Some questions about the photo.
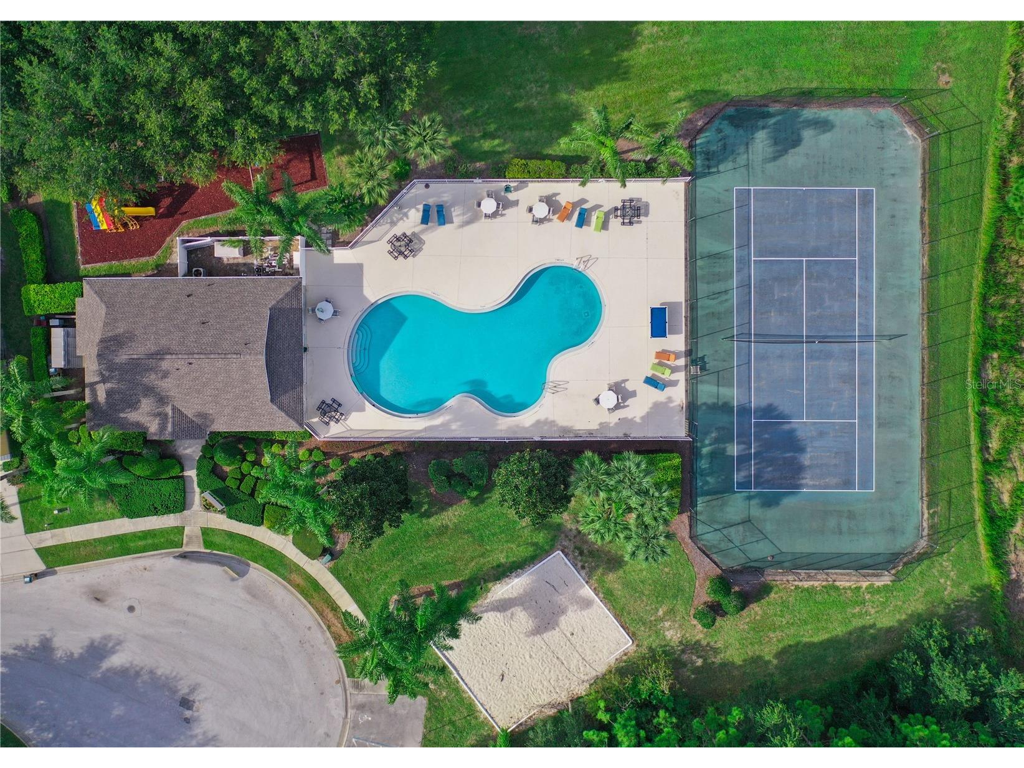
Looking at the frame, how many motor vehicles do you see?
0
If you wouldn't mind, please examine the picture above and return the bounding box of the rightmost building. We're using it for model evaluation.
[76,277,307,441]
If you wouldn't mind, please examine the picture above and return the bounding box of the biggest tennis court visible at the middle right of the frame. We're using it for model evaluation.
[695,108,921,570]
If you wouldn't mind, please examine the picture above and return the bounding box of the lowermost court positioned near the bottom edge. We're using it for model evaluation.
[436,551,633,731]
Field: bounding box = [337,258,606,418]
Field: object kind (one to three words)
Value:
swimming pool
